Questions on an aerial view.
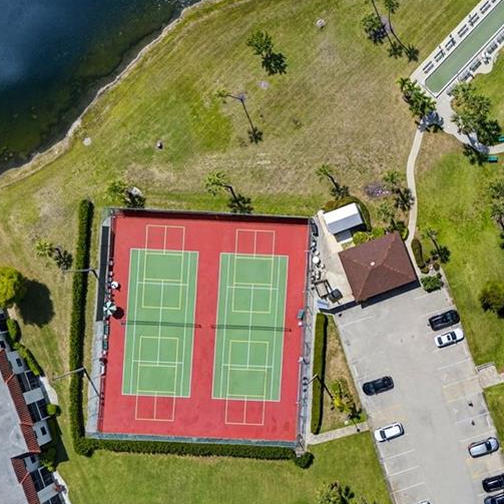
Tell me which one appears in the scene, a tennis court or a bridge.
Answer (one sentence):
There is a tennis court in the scene.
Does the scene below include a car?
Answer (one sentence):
Yes, there's a car here.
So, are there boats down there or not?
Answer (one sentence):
No, no boat is visible in the scene.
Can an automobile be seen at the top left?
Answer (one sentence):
No, no automobile appears at the top left.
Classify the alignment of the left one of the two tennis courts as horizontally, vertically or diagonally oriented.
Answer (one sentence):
From this overhead view, the left one of the two tennis courts appears to run vertically.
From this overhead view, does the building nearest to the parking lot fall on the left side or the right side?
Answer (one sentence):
The building nearest to the parking lot is on the right side of the image.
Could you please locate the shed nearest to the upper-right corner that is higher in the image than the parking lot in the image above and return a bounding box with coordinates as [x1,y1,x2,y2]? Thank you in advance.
[323,203,362,234]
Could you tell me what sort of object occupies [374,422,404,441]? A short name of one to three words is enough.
car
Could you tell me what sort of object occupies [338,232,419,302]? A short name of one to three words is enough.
building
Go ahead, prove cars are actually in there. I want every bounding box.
[482,491,504,504]
[362,375,394,394]
[374,422,404,441]
[467,435,499,455]
[427,310,460,329]
[481,472,504,492]
[433,329,464,347]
